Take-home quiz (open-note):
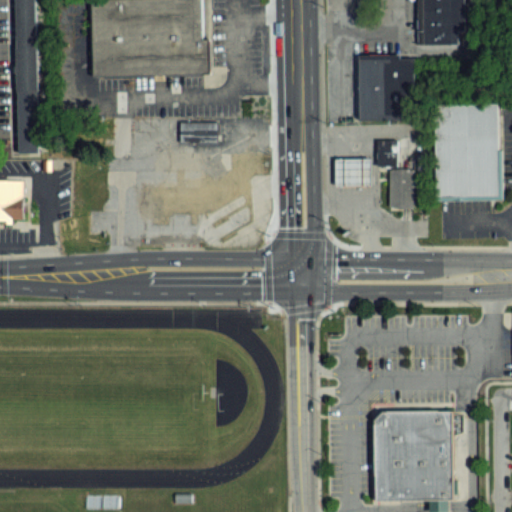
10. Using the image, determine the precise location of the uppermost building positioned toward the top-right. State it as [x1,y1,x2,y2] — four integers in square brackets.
[418,0,462,45]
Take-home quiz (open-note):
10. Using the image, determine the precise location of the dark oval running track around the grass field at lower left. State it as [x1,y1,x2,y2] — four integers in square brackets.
[0,310,282,488]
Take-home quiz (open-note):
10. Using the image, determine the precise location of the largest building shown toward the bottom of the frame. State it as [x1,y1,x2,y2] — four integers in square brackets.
[376,412,455,502]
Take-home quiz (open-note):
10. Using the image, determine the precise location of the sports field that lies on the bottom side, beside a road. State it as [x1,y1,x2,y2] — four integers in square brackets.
[0,328,264,470]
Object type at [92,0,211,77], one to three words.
building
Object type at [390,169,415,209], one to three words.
building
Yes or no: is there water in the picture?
No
